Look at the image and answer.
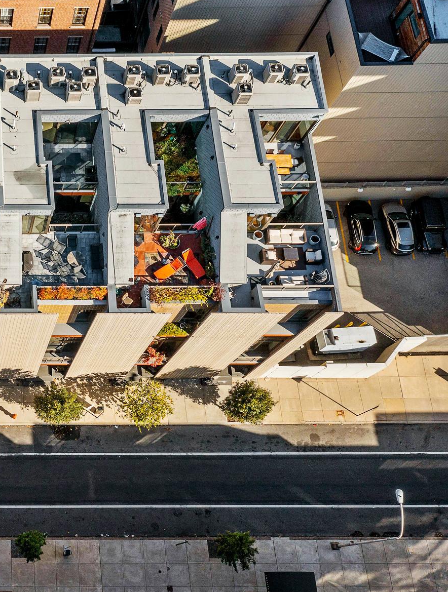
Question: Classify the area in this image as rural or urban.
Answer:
urban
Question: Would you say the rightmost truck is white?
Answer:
No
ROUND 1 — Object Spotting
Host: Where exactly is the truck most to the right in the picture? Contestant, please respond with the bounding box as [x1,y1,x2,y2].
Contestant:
[407,196,448,266]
